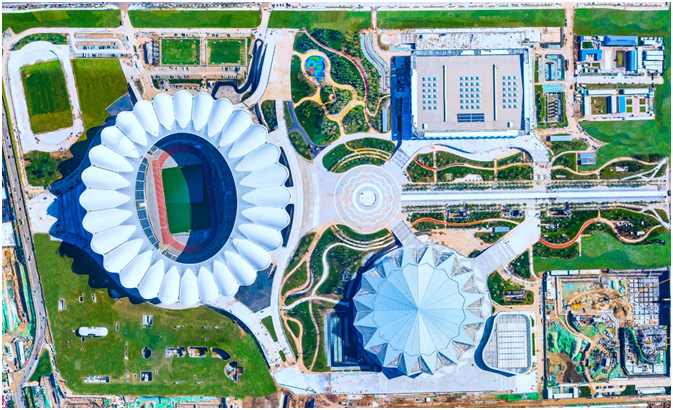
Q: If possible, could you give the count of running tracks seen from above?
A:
2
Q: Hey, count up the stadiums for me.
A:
2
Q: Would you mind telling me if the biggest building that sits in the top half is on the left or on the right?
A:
right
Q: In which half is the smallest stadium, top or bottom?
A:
bottom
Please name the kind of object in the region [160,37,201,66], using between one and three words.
soccer field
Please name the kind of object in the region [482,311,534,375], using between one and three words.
building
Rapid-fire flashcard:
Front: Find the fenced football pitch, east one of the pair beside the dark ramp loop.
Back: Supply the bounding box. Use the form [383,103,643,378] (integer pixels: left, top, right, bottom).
[206,37,247,66]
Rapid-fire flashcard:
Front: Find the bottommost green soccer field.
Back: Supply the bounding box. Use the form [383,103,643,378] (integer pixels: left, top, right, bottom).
[163,164,210,233]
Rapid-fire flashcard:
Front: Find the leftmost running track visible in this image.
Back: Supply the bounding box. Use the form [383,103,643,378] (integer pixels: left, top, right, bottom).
[9,42,83,153]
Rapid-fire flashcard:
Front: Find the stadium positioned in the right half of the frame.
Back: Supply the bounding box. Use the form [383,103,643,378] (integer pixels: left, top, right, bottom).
[354,246,482,375]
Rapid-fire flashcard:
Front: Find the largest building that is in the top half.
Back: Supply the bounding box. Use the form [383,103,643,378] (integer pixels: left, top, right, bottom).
[398,32,540,139]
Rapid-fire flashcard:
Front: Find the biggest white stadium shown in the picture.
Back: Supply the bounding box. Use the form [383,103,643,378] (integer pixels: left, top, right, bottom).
[80,90,291,309]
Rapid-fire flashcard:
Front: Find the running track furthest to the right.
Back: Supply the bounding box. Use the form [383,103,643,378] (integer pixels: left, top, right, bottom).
[151,143,223,254]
